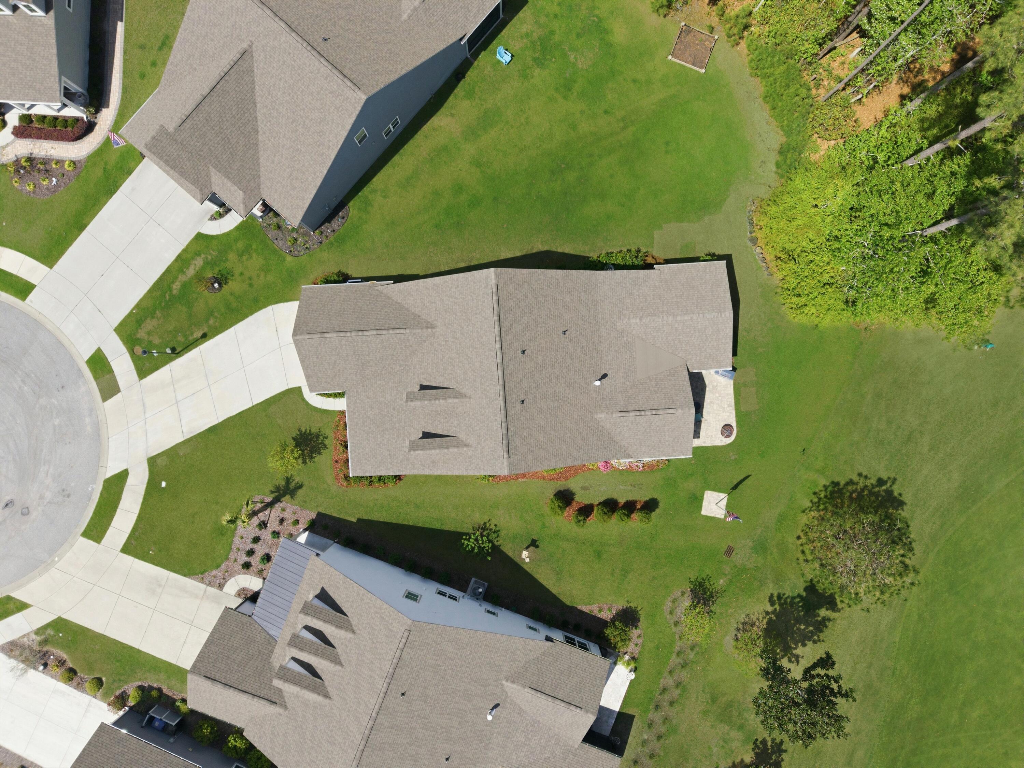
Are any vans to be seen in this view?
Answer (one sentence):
No, there appears to be no van in this shot.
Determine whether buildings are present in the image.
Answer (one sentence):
Yes, the frame does contain a building.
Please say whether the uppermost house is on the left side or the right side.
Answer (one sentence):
You can find the uppermost house on the left side of the picture.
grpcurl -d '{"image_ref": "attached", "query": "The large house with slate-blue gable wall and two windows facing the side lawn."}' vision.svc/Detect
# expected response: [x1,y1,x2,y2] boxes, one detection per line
[117,0,517,237]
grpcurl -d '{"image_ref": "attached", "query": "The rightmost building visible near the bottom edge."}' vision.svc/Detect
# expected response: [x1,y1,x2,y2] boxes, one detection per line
[186,529,623,768]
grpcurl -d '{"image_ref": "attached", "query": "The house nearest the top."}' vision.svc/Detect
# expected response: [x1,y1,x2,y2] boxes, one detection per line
[0,0,91,116]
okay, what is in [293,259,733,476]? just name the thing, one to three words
house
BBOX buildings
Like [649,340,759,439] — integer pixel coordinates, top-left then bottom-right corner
[186,529,623,768]
[117,0,517,237]
[0,0,91,116]
[72,708,254,768]
[293,259,733,476]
